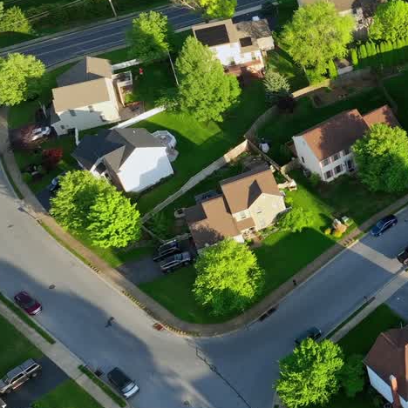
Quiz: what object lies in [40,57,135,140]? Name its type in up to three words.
house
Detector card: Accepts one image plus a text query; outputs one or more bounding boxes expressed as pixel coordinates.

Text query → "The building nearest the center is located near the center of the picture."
[181,163,286,257]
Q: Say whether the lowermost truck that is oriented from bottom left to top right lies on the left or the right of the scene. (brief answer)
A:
left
